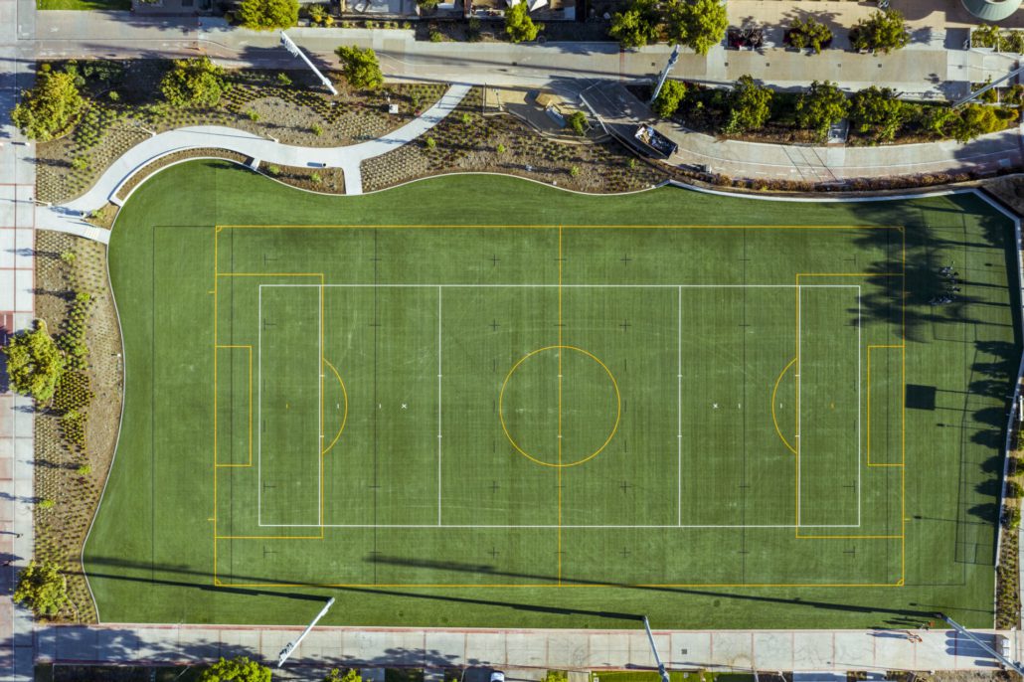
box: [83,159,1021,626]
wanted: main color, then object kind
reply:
green sports field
